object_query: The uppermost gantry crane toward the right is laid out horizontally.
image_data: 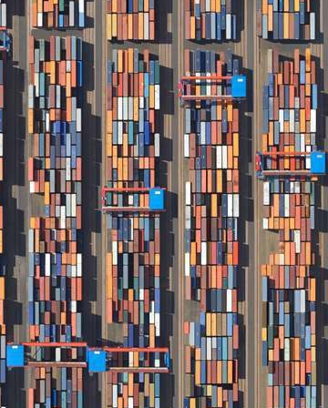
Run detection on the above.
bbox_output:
[174,74,250,106]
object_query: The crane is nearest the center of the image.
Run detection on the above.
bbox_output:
[97,184,170,216]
